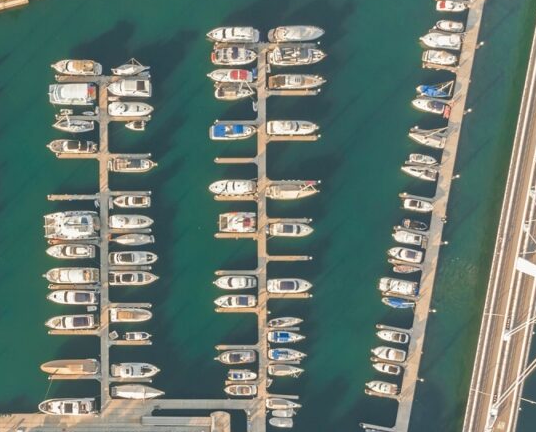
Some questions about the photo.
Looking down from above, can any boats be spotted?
Yes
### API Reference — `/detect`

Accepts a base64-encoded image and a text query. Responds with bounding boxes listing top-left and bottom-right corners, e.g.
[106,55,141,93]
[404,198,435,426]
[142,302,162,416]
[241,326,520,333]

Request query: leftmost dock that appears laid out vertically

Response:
[48,74,151,414]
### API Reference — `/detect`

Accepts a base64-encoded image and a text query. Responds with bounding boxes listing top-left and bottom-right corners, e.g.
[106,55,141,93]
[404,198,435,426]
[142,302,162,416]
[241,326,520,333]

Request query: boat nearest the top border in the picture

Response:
[434,0,468,12]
